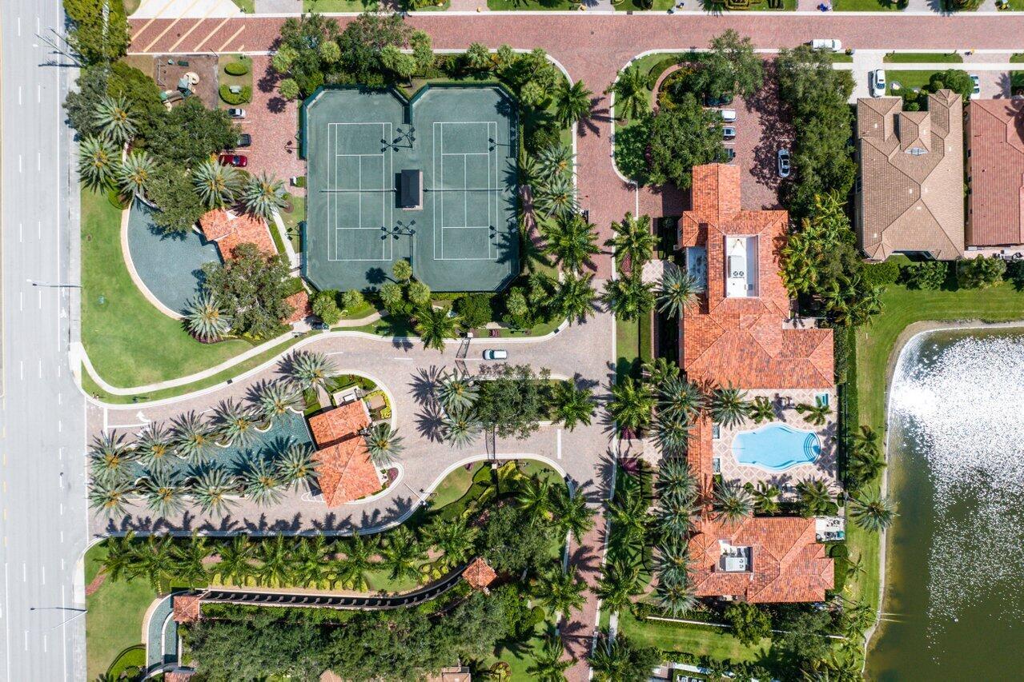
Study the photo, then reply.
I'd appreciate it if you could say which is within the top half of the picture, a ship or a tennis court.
tennis court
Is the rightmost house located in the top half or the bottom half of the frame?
top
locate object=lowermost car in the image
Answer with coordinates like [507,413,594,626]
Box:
[482,348,508,361]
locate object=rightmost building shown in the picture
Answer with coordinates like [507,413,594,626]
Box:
[962,99,1024,245]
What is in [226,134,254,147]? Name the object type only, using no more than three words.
vehicle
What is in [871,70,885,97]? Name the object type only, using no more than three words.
car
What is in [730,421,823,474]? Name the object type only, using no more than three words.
swimming pool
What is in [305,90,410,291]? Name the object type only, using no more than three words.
tennis court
